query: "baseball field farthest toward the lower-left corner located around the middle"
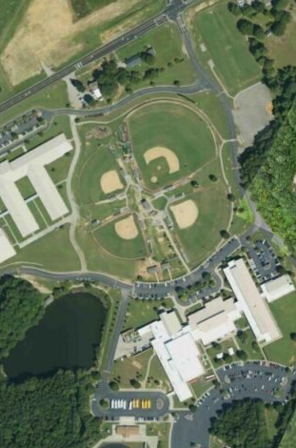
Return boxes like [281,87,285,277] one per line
[91,211,147,260]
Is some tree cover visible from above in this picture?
Yes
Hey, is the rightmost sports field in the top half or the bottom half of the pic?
top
